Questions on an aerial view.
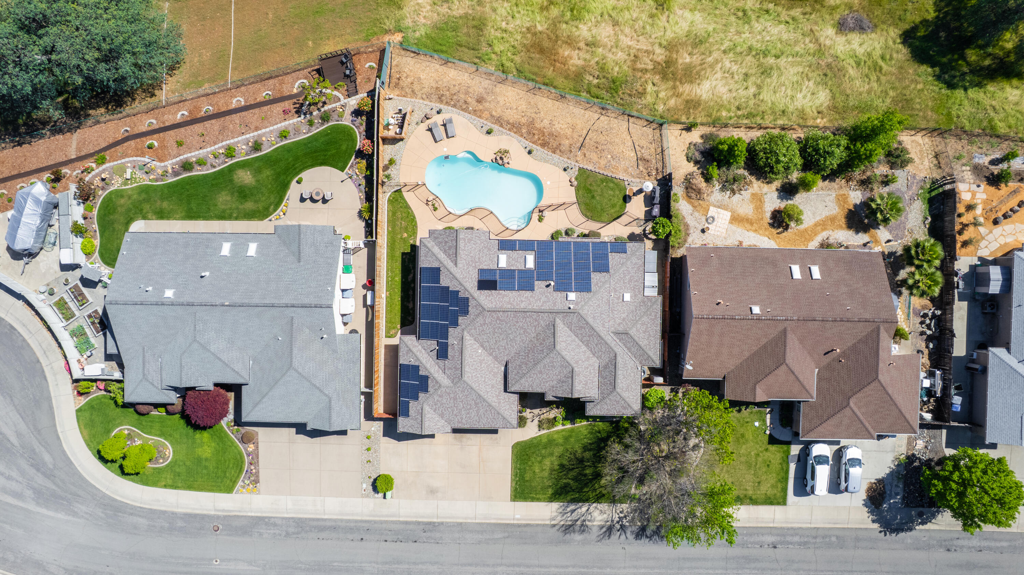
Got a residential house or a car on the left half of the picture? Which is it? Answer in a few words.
residential house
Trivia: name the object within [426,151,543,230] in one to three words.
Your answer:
swimming pool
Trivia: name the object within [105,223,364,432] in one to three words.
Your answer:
house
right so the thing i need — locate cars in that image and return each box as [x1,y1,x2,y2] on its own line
[837,444,866,494]
[805,441,835,496]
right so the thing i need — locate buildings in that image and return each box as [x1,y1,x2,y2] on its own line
[58,192,85,248]
[970,250,1024,446]
[396,229,664,435]
[105,223,364,432]
[679,244,922,441]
